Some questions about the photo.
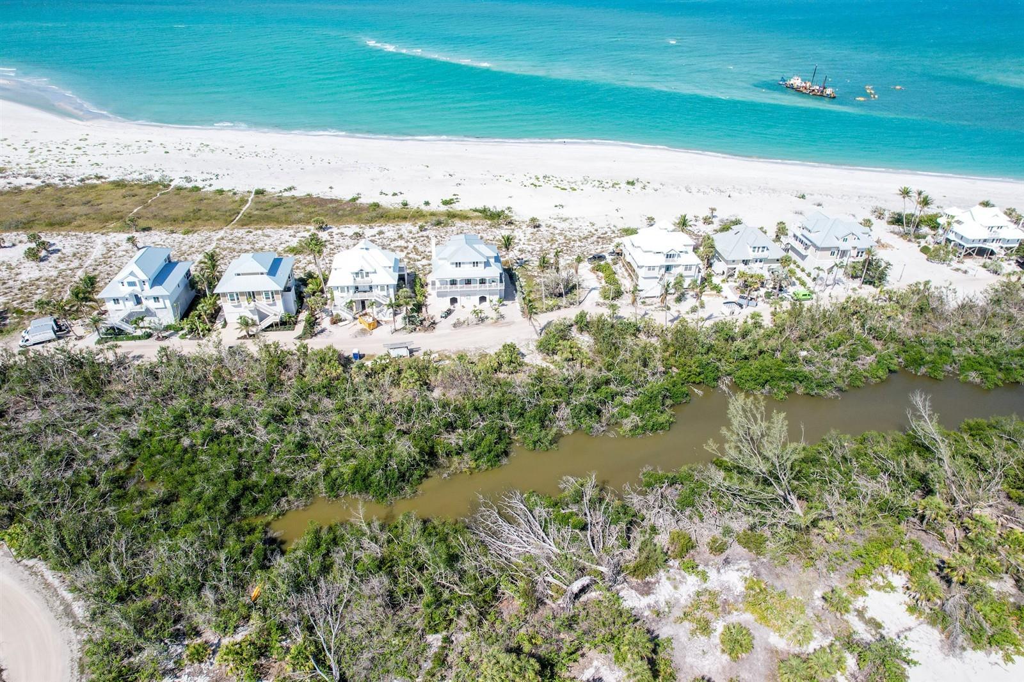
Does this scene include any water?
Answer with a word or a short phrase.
Yes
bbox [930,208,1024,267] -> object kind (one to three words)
house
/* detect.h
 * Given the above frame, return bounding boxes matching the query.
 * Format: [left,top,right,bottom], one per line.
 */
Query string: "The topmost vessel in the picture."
[775,61,841,99]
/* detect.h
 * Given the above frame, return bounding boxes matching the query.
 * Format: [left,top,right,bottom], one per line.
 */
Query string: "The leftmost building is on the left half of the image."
[97,240,196,340]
